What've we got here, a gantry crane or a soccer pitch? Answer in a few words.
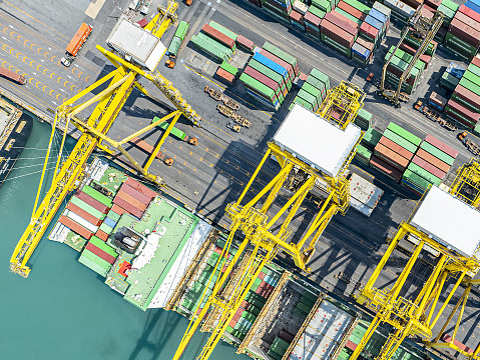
gantry crane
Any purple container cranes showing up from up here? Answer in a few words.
No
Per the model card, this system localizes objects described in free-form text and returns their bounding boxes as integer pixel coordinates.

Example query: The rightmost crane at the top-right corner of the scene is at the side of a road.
[374,0,443,103]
